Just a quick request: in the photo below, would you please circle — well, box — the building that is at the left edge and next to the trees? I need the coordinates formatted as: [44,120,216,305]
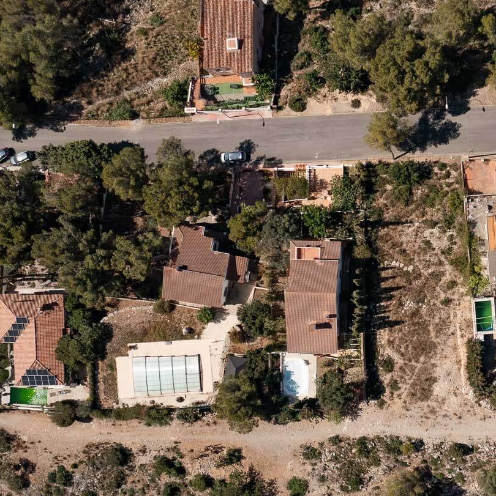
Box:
[0,293,73,387]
